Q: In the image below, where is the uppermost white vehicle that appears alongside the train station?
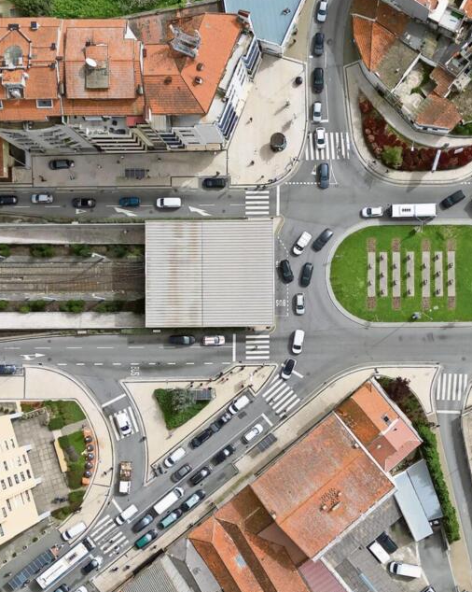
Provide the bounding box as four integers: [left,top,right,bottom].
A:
[155,196,180,209]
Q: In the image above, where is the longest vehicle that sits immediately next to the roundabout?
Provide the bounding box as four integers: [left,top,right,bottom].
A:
[388,205,437,221]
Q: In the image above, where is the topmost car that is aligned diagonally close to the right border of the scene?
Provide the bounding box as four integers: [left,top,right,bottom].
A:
[440,189,465,209]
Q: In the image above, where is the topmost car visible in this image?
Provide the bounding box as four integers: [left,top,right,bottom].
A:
[316,0,328,23]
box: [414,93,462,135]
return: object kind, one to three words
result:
house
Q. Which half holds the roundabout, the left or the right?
right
